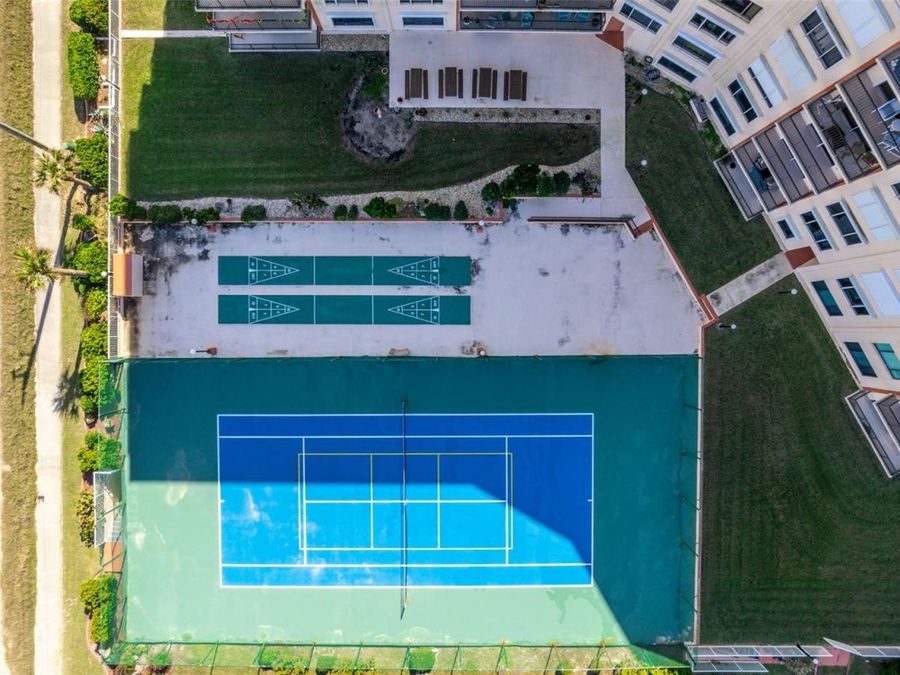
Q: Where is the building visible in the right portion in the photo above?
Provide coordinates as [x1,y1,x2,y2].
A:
[190,0,900,487]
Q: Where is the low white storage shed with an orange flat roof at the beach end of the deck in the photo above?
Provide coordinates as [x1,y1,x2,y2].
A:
[105,251,143,297]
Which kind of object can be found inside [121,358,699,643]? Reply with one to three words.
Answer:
tennis court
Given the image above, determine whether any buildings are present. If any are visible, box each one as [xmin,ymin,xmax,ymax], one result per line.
[105,251,143,297]
[190,0,900,487]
